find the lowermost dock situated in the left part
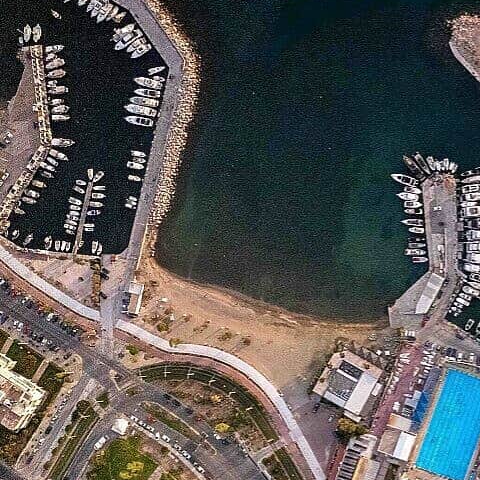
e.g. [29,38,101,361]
[72,181,93,255]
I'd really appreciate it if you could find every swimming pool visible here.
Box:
[400,360,480,480]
